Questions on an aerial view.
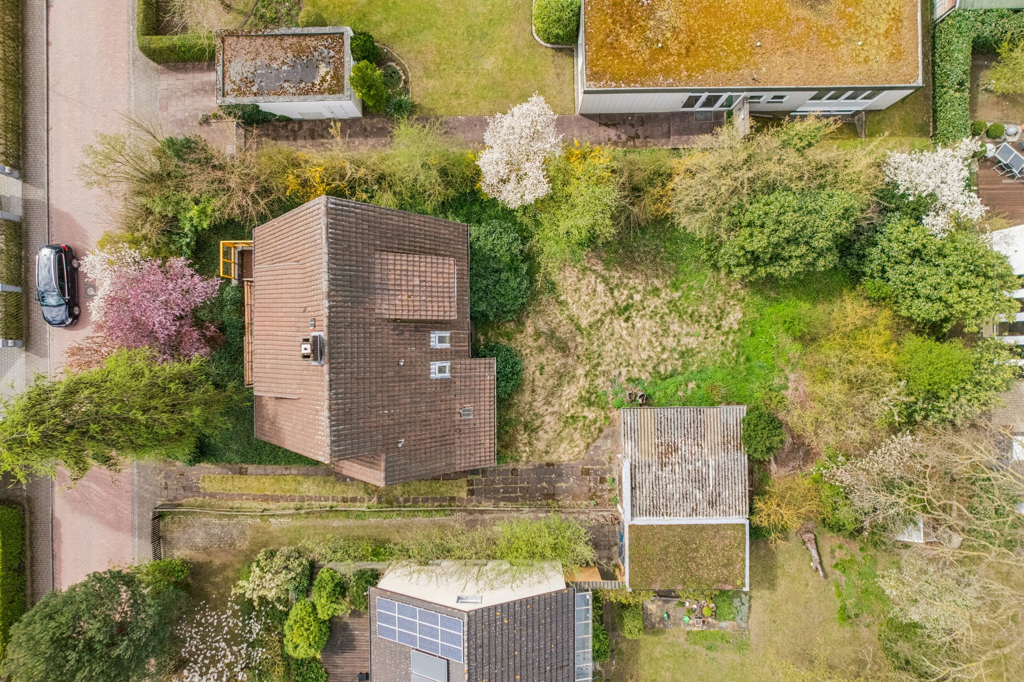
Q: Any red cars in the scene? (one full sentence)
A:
No, the scene contains no red car.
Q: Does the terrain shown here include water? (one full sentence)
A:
No, the picture contains no water.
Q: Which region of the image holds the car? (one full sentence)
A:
Look in the left portion of the view to spot the car.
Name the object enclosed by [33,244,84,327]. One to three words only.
car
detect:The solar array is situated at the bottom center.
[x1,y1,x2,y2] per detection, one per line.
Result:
[376,598,463,662]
